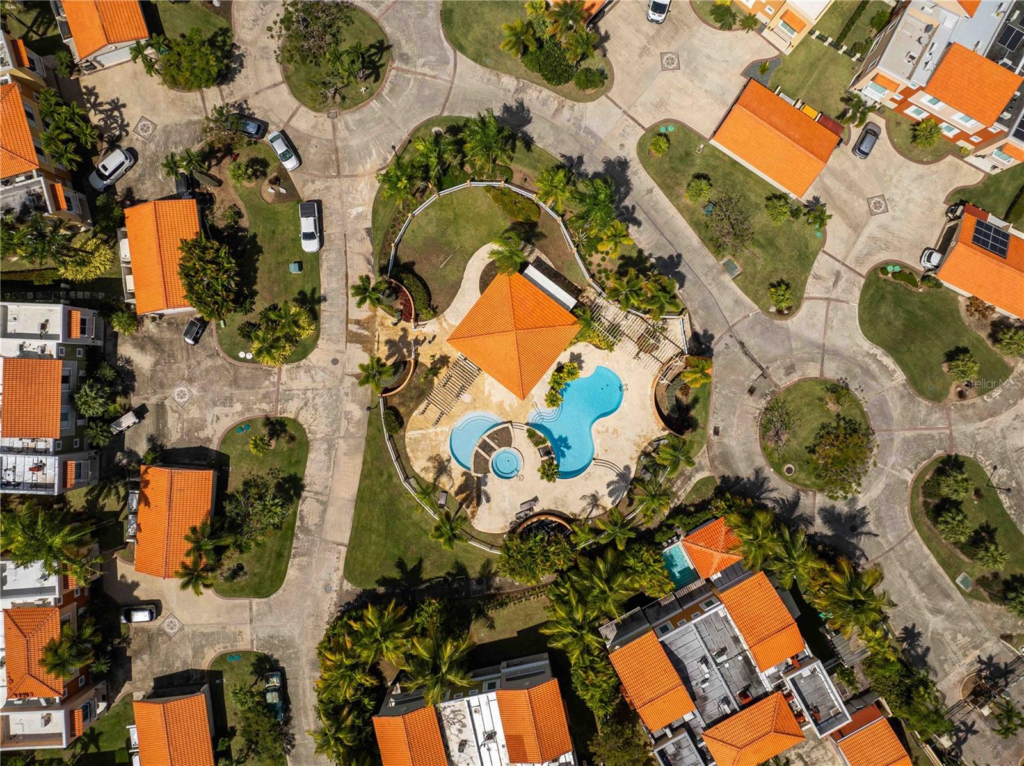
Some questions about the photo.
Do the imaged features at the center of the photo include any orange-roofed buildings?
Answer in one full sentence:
Yes, at the center of the photo there is an orange-roofed building.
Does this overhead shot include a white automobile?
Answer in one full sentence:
Yes, the photo shows a white automobile.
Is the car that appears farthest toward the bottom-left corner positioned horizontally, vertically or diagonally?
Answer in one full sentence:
The car that appears farthest toward the bottom-left corner has been laid out horizontally relative to the frame.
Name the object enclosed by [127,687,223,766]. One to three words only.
building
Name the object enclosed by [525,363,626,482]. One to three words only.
swimming pool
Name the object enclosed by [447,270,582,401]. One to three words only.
building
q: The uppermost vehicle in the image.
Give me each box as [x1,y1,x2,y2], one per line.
[648,0,670,29]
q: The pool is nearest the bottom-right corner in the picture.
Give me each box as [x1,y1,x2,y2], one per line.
[660,542,699,590]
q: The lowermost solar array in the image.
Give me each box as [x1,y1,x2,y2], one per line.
[973,220,1011,257]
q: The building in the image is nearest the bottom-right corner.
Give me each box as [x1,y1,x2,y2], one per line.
[952,666,1011,716]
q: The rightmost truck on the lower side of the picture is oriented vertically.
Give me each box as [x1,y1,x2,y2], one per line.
[263,670,285,720]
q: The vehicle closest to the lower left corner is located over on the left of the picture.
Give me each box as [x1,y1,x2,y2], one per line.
[119,603,161,625]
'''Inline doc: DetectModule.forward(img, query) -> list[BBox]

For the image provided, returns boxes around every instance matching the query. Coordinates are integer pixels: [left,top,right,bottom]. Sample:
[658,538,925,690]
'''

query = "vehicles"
[119,603,161,625]
[109,410,144,433]
[230,115,271,140]
[648,0,670,29]
[941,203,966,221]
[263,670,285,720]
[196,187,216,211]
[268,131,300,173]
[917,248,944,268]
[92,150,135,191]
[299,202,321,253]
[71,58,99,78]
[174,170,197,200]
[180,321,203,343]
[850,119,880,163]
